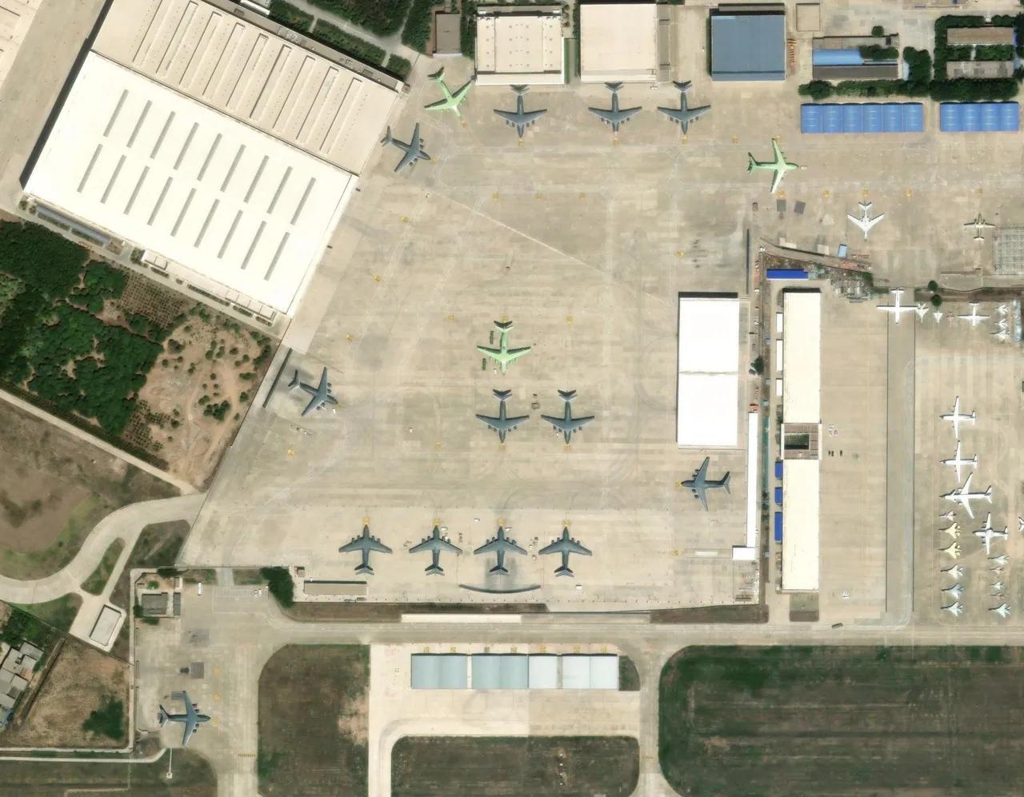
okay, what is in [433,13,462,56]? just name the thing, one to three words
building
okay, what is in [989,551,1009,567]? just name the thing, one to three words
airplane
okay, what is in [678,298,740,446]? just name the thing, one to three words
hangar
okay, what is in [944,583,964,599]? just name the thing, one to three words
airplane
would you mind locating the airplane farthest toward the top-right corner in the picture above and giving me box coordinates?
[963,213,996,238]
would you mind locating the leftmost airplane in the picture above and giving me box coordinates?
[161,692,211,745]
